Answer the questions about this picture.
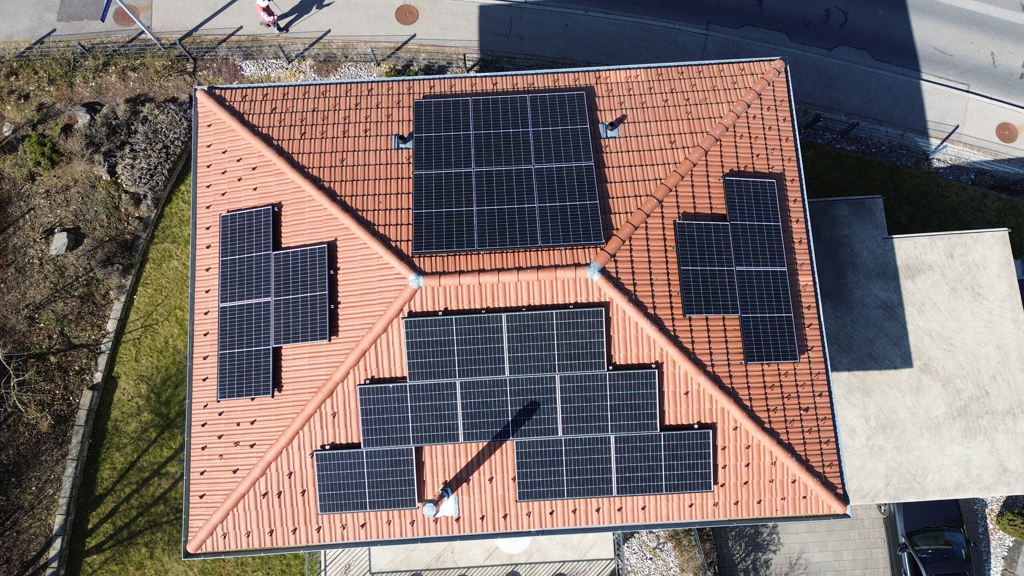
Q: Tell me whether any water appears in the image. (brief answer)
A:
No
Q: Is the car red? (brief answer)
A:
No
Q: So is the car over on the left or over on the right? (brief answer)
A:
right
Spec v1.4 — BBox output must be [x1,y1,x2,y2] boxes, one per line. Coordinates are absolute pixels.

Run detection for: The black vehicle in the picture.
[872,498,982,576]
